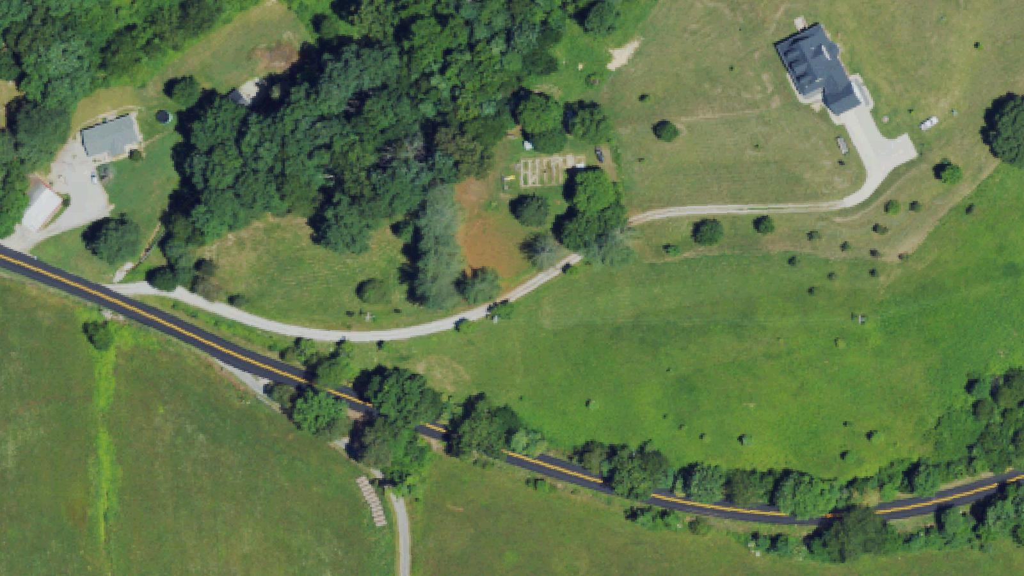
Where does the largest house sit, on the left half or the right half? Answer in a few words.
right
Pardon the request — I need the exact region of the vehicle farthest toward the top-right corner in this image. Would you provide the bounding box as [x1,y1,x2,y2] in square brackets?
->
[921,116,939,130]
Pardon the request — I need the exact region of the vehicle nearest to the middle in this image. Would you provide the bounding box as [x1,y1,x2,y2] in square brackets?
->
[593,146,606,163]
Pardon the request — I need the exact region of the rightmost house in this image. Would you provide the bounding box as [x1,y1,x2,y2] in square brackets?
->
[776,21,863,115]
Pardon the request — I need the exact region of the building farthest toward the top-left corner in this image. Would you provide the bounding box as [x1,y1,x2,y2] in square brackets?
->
[81,114,140,156]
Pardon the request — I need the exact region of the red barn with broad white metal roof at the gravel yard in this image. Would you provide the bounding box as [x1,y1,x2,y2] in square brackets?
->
[14,177,62,231]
